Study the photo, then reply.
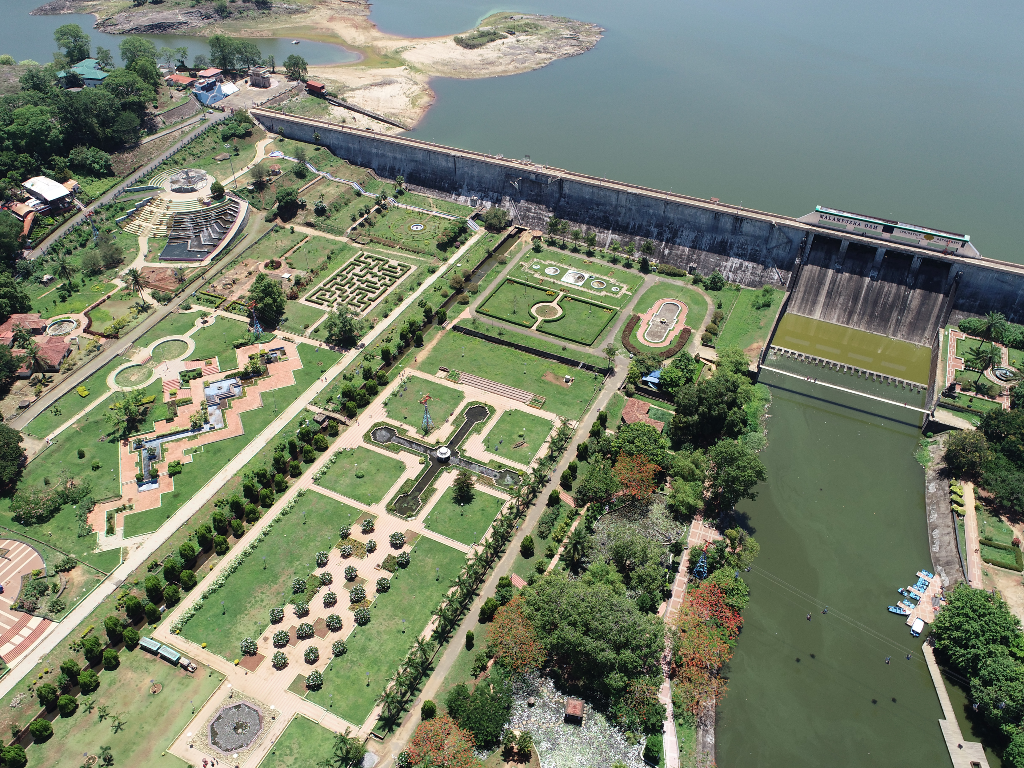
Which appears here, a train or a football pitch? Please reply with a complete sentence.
There is a train in the scene.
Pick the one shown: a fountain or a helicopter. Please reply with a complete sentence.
There is a fountain in the scene.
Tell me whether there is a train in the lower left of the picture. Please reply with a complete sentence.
Yes, the scene does show a train in the lower left of the picture.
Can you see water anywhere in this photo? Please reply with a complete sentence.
Yes, some water is visible.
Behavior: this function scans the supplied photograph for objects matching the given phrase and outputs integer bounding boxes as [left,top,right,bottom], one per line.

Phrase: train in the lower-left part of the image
[131,635,197,676]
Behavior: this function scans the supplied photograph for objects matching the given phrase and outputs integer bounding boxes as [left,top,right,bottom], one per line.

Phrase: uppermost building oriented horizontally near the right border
[796,205,981,262]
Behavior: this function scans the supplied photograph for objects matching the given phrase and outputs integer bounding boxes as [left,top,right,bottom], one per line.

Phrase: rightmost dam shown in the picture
[255,111,1024,356]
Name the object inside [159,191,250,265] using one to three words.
fountain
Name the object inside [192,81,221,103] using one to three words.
building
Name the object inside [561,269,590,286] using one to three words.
fountain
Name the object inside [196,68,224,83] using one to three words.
building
